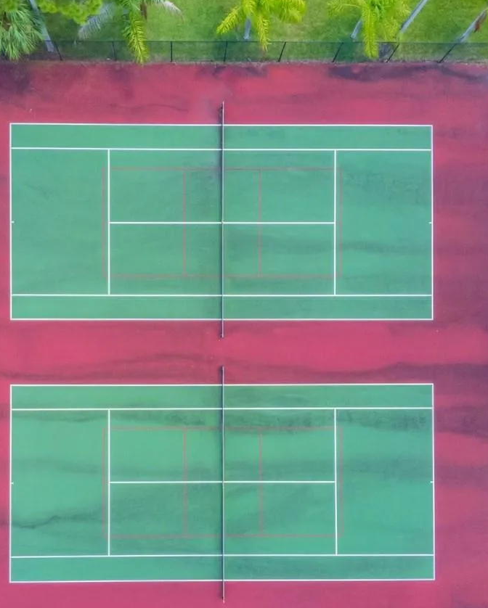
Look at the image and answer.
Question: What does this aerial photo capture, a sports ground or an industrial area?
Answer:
sports ground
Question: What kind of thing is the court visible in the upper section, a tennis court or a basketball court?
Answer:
tennis court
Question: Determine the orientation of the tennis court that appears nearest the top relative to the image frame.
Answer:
from left to right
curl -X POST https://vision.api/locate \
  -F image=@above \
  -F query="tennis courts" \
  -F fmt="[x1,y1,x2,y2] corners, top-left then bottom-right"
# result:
[9,124,434,320]
[9,385,435,582]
